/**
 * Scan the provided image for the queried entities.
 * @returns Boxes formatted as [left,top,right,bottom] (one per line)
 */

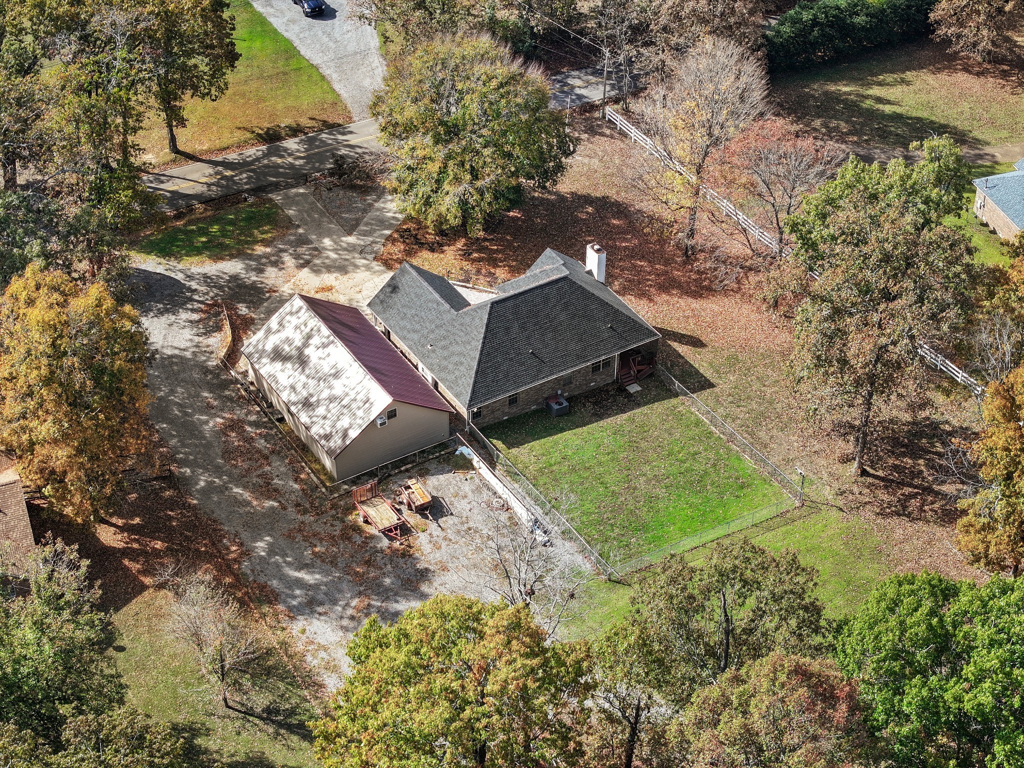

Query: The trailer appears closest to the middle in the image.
[398,473,434,522]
